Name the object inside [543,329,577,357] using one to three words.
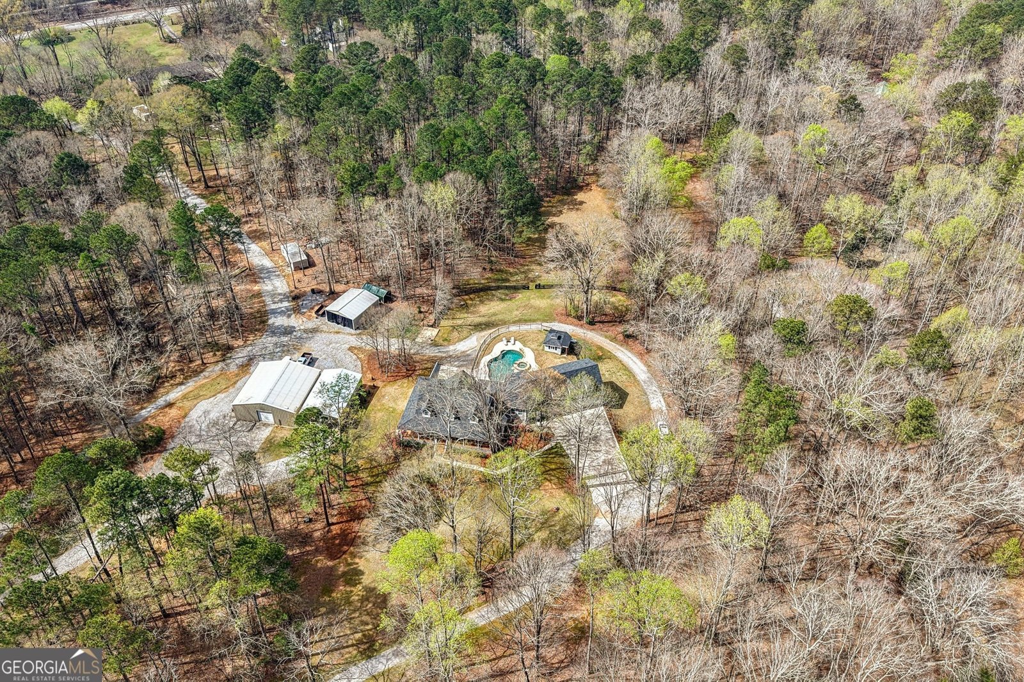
building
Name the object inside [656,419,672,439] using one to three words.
car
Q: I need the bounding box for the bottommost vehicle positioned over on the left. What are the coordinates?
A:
[298,348,318,366]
